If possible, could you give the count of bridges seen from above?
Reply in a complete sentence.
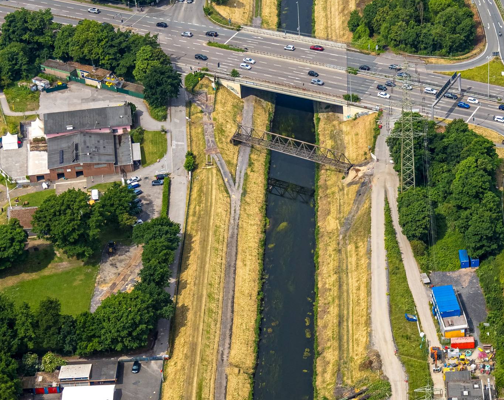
The count of bridges comes to 2.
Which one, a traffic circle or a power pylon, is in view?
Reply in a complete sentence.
The one in the frame is a power pylon.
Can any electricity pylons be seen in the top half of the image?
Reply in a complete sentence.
Yes, there is an electricity pylon in the top half of the image.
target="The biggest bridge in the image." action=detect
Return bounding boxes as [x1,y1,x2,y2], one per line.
[204,23,379,119]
